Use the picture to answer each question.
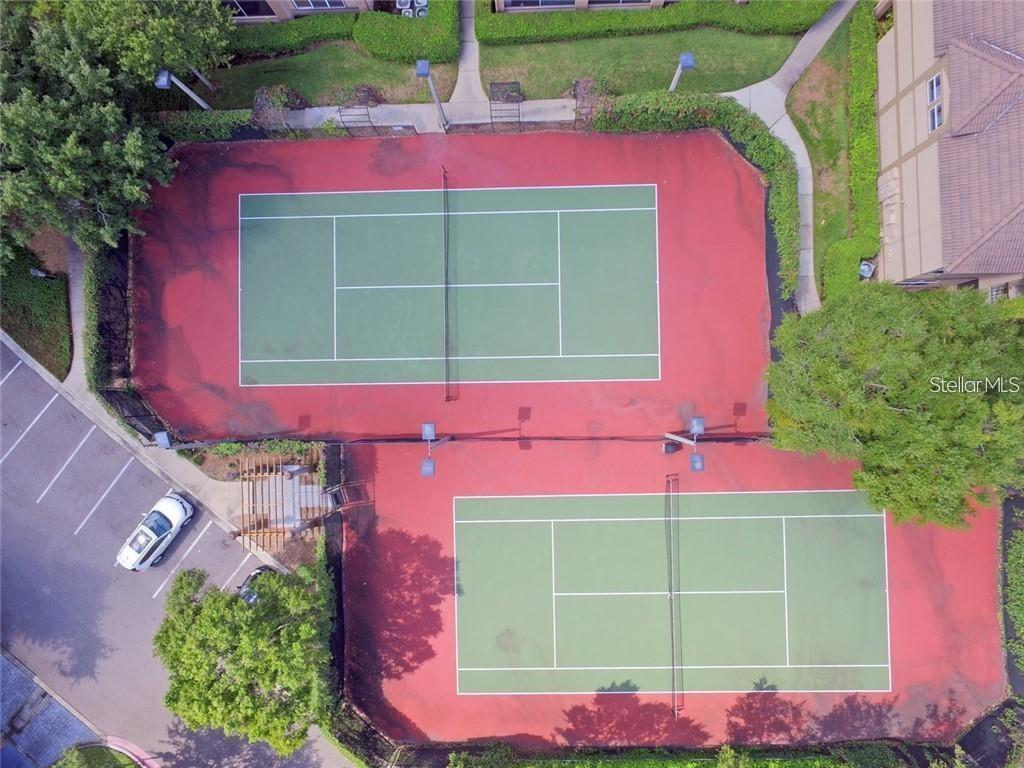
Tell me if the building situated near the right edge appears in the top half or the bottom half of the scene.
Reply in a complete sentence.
The top half of the photo is where the building situated near the right edge is.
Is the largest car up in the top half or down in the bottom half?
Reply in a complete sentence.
The largest car is in the bottom half of the image.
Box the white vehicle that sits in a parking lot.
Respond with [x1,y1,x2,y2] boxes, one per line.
[119,491,192,572]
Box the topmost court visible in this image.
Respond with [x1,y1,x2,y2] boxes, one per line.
[130,129,773,440]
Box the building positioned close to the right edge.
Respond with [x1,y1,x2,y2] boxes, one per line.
[873,0,1024,291]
